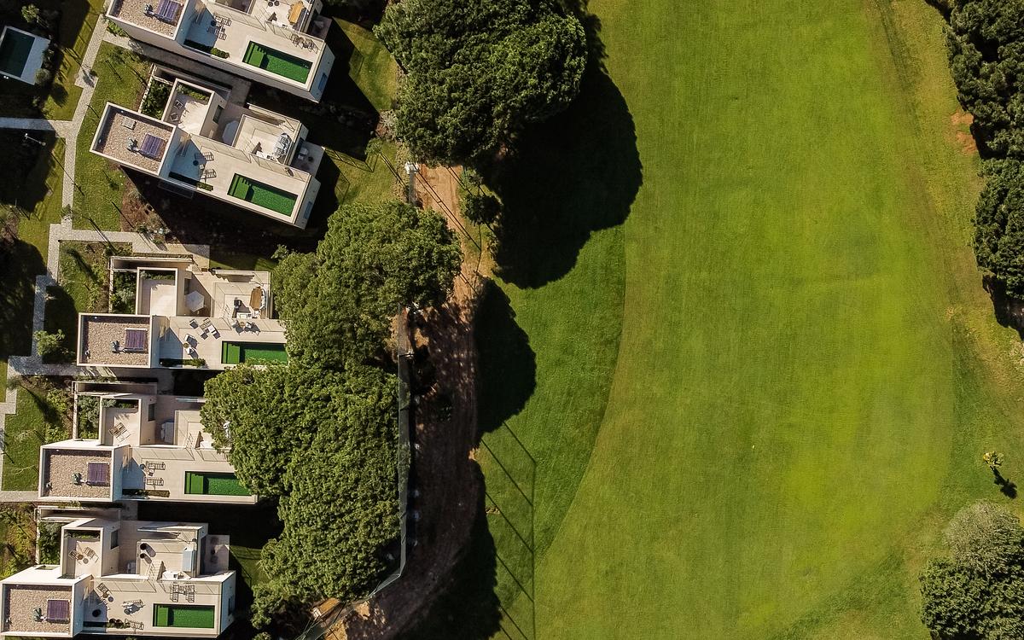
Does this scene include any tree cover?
Yes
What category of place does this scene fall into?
golf course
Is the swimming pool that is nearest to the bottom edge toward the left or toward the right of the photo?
left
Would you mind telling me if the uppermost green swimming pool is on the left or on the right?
left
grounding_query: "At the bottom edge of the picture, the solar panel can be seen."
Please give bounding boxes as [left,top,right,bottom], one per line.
[50,597,73,620]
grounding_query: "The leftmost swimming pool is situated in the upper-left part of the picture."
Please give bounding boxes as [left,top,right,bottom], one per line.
[0,23,49,84]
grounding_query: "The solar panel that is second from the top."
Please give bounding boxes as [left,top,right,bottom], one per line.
[142,128,169,158]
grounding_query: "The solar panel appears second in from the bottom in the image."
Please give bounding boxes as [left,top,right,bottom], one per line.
[88,459,111,483]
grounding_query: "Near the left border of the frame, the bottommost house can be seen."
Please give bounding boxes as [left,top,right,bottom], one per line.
[2,505,234,639]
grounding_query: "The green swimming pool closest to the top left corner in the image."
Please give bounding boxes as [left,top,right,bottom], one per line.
[245,41,312,83]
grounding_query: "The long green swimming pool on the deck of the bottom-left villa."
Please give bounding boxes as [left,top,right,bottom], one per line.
[149,602,214,625]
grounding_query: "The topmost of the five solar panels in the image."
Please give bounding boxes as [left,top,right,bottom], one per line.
[157,0,185,23]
